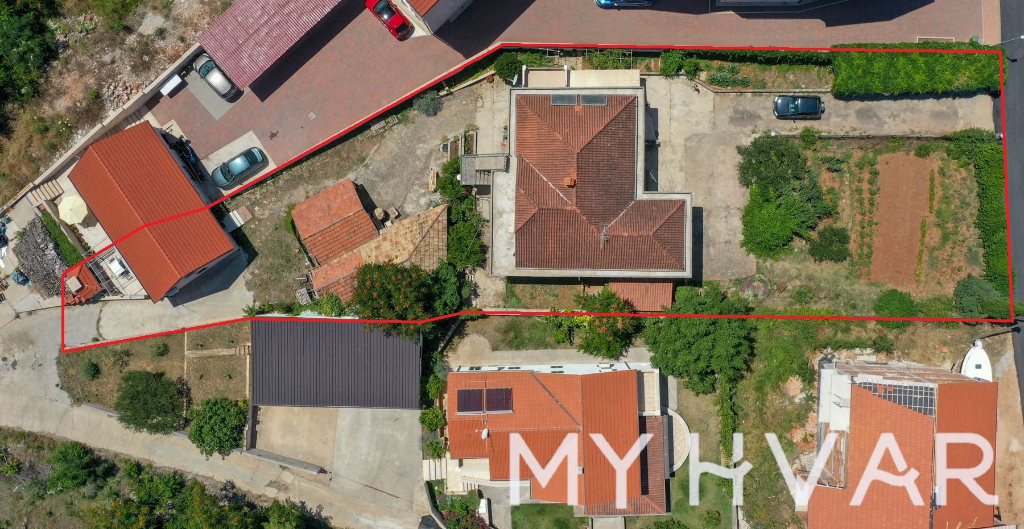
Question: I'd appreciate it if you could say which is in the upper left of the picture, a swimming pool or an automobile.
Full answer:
What appears in the upper left of the picture is an automobile.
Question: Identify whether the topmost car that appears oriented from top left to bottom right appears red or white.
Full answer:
The color of the topmost car that appears oriented from top left to bottom right is red.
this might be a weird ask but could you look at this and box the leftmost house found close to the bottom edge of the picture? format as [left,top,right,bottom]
[447,359,669,521]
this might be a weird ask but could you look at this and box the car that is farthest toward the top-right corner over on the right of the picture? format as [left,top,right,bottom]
[774,91,829,119]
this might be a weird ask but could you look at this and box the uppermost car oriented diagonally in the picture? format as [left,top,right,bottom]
[364,0,415,42]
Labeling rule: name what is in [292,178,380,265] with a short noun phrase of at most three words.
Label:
shed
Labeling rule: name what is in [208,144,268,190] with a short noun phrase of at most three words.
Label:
car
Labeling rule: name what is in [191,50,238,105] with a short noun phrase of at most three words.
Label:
car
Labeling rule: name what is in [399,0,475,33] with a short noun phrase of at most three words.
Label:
house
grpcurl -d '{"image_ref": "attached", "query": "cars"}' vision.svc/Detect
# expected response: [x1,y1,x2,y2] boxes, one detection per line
[364,0,415,42]
[191,50,238,105]
[596,0,654,8]
[208,144,268,190]
[774,91,829,119]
